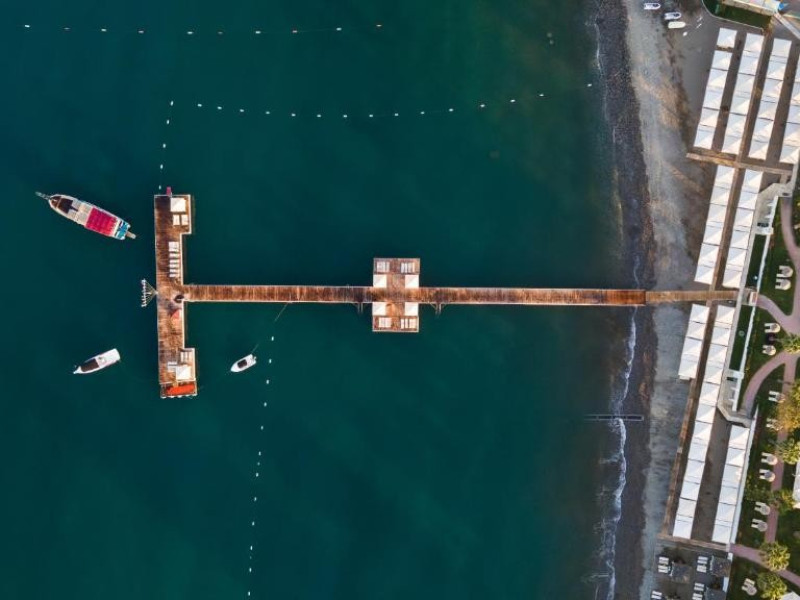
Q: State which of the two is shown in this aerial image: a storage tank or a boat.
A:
boat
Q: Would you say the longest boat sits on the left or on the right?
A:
left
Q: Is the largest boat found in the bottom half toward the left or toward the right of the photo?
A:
left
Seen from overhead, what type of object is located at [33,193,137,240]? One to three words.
boat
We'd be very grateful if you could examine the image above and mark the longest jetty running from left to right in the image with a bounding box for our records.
[154,195,738,385]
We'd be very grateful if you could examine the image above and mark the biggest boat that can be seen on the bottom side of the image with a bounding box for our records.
[73,348,123,374]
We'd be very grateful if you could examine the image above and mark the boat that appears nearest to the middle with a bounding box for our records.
[231,355,255,371]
